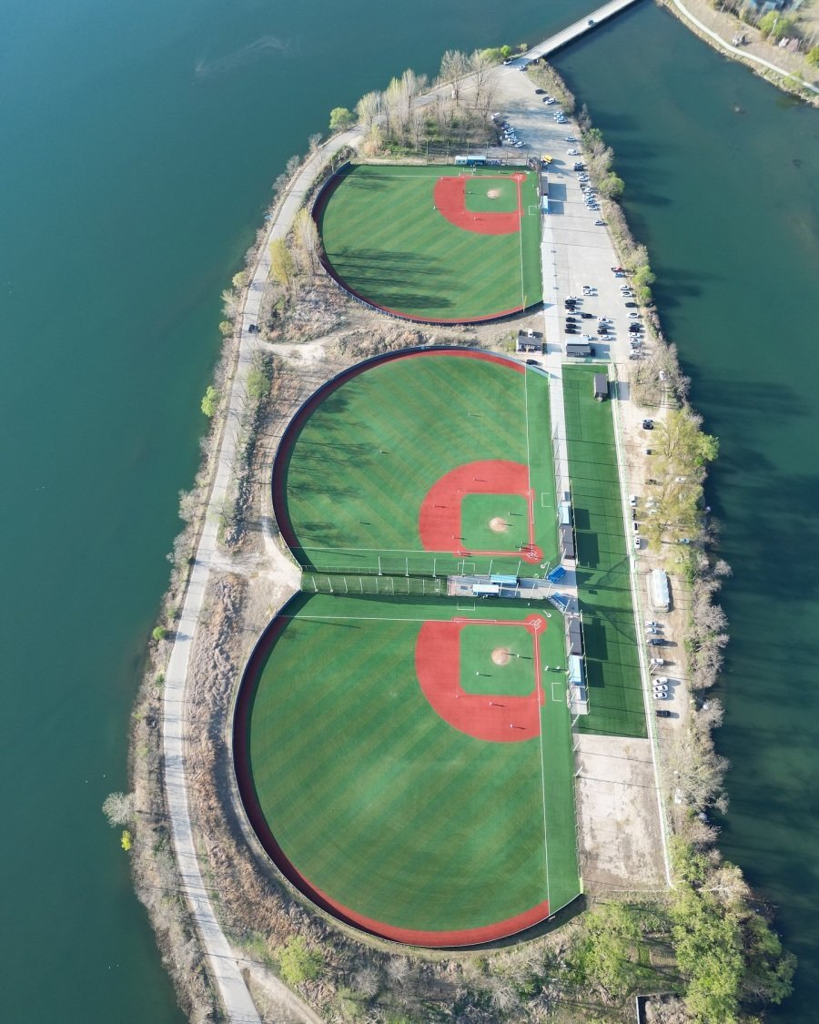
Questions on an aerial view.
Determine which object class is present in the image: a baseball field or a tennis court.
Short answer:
baseball field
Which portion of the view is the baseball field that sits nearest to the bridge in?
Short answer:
top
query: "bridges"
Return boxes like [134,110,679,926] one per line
[527,0,640,58]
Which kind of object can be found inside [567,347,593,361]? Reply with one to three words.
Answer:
building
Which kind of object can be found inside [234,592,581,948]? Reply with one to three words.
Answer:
baseball field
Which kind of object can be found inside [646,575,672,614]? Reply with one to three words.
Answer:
greenhouse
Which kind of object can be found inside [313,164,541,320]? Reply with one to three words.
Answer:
baseball field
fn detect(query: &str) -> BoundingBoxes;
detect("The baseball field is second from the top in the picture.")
[272,349,558,577]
